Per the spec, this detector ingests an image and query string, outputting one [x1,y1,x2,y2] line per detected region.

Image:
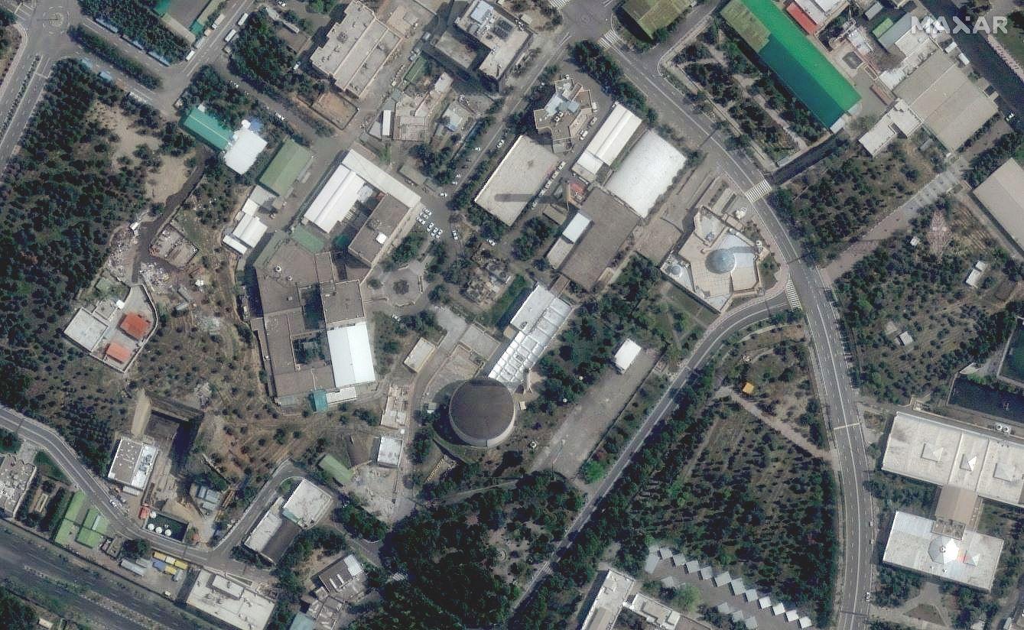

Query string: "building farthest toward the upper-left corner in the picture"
[154,0,223,46]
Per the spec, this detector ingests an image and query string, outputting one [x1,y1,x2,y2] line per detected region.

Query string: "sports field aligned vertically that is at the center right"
[1000,321,1024,381]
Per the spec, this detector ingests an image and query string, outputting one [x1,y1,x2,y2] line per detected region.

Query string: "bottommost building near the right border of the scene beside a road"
[883,512,1002,595]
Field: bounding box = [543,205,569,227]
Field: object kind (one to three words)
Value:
building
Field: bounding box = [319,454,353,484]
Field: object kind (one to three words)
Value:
shed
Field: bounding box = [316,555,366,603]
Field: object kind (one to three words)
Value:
house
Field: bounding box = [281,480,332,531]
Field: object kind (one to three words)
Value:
building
